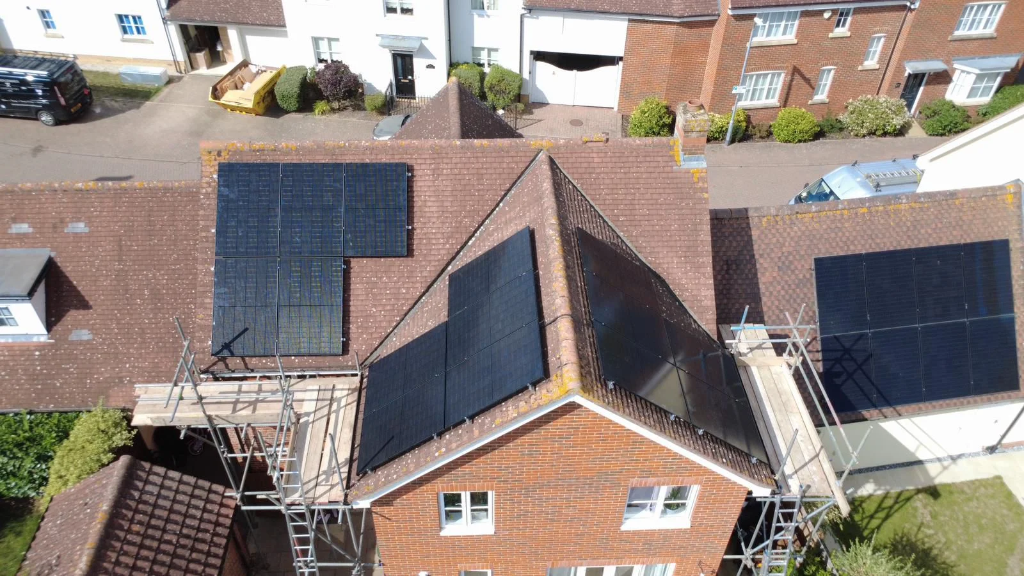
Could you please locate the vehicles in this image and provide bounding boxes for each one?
[369,100,425,140]
[0,53,89,126]
[785,153,940,201]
